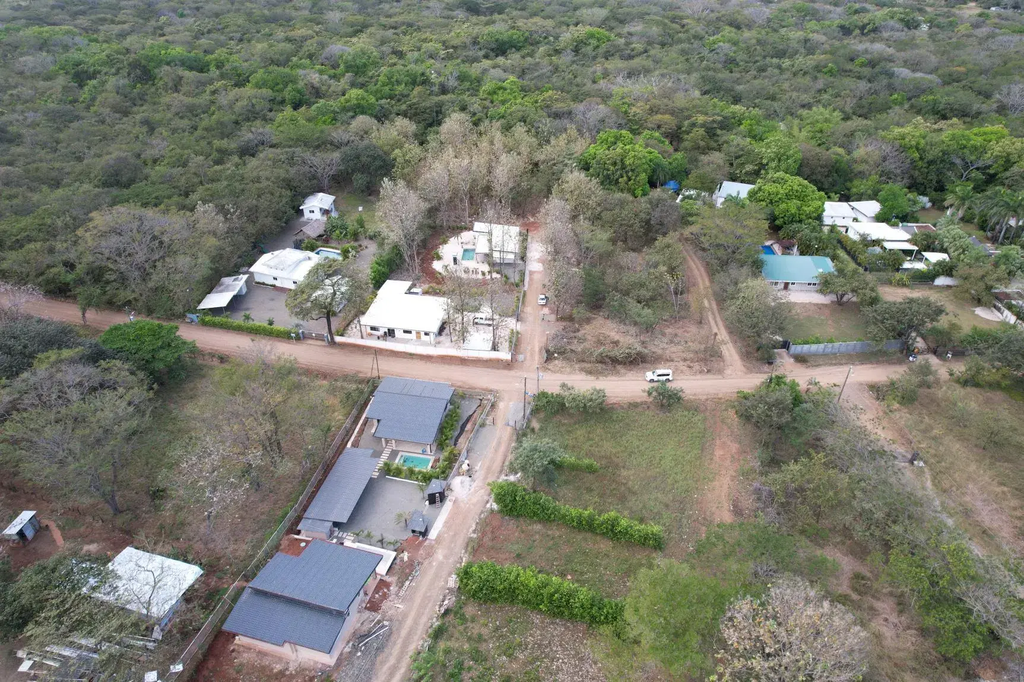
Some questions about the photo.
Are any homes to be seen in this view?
Yes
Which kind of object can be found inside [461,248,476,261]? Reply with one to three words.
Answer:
swimming pool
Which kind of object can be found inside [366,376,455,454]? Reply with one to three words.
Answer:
building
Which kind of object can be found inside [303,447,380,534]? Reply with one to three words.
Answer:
building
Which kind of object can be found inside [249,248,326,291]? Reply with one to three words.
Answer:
house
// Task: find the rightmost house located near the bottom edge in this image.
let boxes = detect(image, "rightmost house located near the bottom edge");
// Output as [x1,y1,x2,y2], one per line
[221,539,384,666]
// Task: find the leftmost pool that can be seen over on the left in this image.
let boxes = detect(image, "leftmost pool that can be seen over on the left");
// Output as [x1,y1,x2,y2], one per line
[314,248,342,264]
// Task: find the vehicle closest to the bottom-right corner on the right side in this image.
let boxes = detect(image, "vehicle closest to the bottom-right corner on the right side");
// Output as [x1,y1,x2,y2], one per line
[644,369,674,383]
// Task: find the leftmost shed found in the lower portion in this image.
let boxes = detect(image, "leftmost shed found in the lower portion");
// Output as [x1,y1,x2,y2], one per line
[2,511,41,545]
